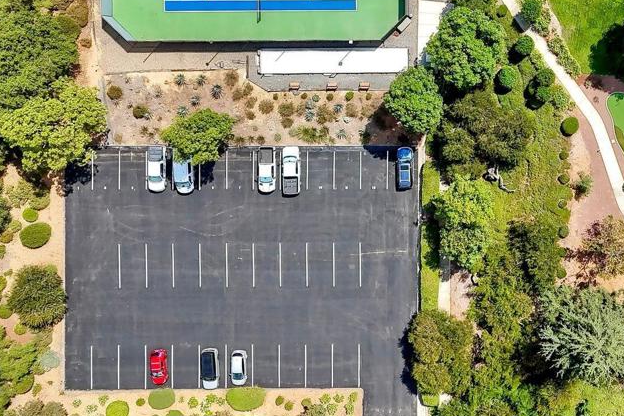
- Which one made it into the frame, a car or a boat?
car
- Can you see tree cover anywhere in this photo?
Yes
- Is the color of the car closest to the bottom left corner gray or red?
red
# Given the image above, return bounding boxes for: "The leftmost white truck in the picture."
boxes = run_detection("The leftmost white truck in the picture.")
[145,146,167,192]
